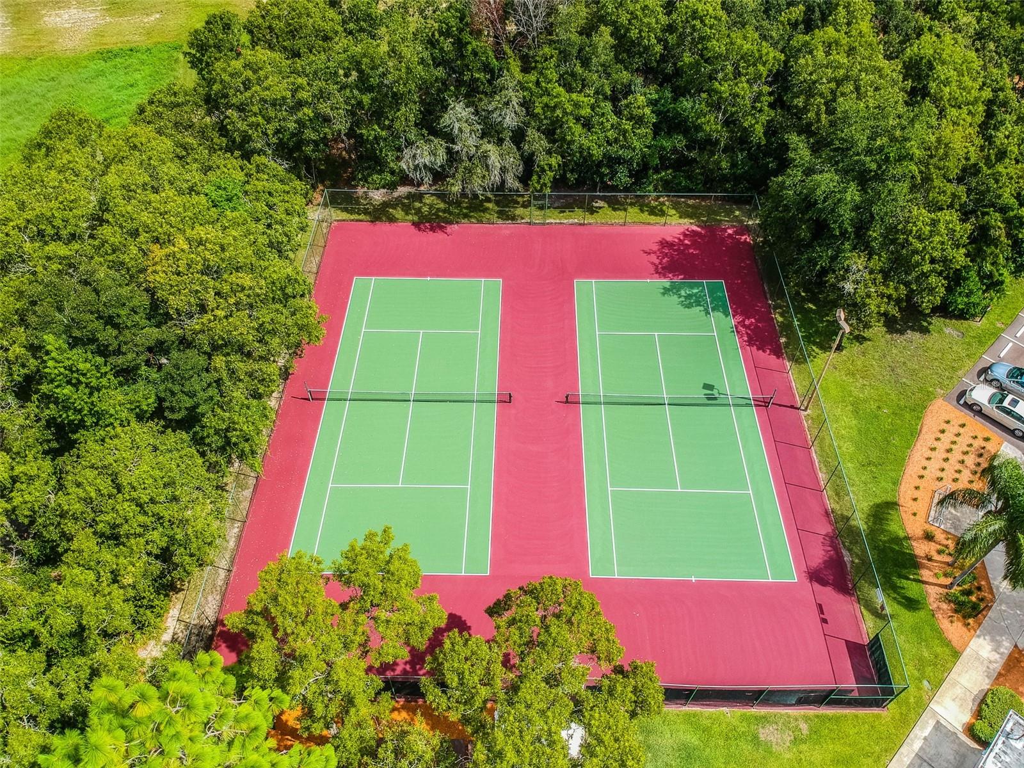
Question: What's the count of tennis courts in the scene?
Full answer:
In total, 2 tennis courts can be seen.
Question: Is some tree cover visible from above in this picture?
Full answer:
Yes, there is tree cover in the image.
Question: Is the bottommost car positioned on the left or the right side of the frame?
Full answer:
The bottommost car sits on the right side.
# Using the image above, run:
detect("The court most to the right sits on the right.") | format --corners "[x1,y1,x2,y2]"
[538,225,895,713]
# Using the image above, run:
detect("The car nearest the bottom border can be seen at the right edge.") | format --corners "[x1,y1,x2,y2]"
[965,385,1024,437]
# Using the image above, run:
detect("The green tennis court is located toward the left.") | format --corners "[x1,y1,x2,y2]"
[206,224,539,705]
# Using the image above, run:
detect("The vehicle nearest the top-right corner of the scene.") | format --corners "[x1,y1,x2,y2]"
[985,361,1024,399]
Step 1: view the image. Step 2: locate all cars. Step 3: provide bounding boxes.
[985,361,1024,399]
[965,385,1024,437]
